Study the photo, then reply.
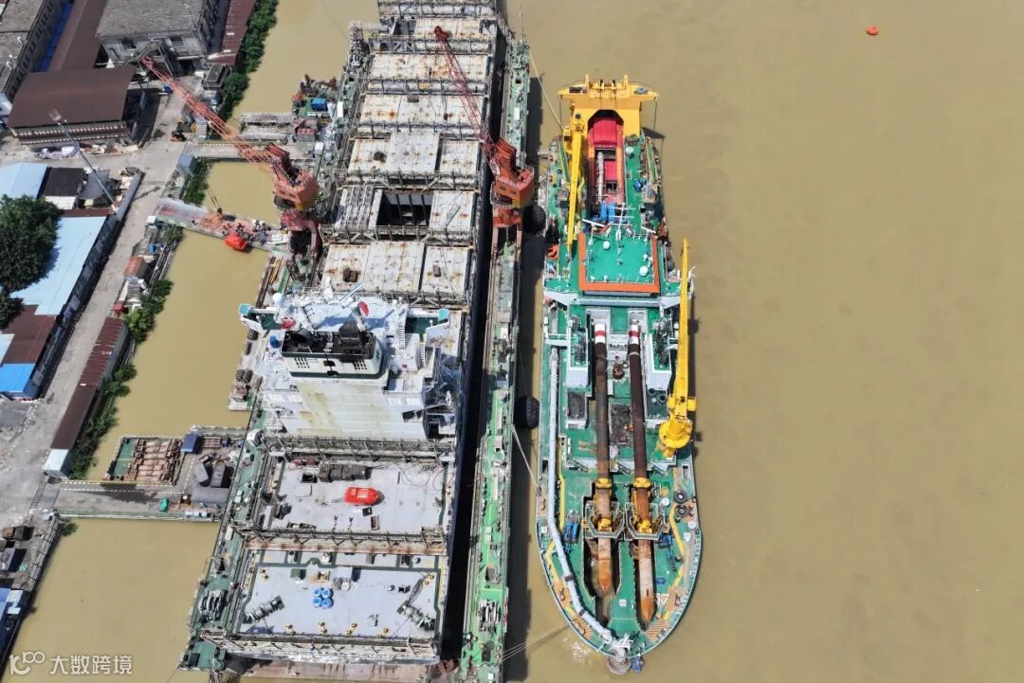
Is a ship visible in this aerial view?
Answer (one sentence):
Yes, the image includes a ship.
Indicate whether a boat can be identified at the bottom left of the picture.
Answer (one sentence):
Yes, looking at the bottom left of the picture, one can make out a boat.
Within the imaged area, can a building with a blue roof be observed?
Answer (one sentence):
Yes, there's a building with a blue roof down there.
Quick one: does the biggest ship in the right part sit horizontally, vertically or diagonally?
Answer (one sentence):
The biggest ship in the right part is oriented vertically.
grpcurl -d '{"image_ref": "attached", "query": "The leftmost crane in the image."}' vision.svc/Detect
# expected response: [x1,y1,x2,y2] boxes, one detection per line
[140,57,318,268]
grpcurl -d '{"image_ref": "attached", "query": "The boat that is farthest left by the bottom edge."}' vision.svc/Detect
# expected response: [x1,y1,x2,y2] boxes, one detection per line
[0,587,38,665]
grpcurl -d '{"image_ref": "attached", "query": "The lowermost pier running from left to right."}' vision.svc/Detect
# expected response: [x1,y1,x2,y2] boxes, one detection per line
[56,480,229,522]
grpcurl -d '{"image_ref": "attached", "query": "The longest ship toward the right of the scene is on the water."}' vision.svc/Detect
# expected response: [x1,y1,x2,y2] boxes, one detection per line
[537,74,703,675]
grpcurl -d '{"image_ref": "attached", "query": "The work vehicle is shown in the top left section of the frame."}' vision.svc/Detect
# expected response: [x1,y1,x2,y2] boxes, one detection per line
[172,127,191,141]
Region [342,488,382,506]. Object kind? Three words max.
boat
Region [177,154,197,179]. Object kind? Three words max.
building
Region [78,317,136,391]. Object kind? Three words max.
shed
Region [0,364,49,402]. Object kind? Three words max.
building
